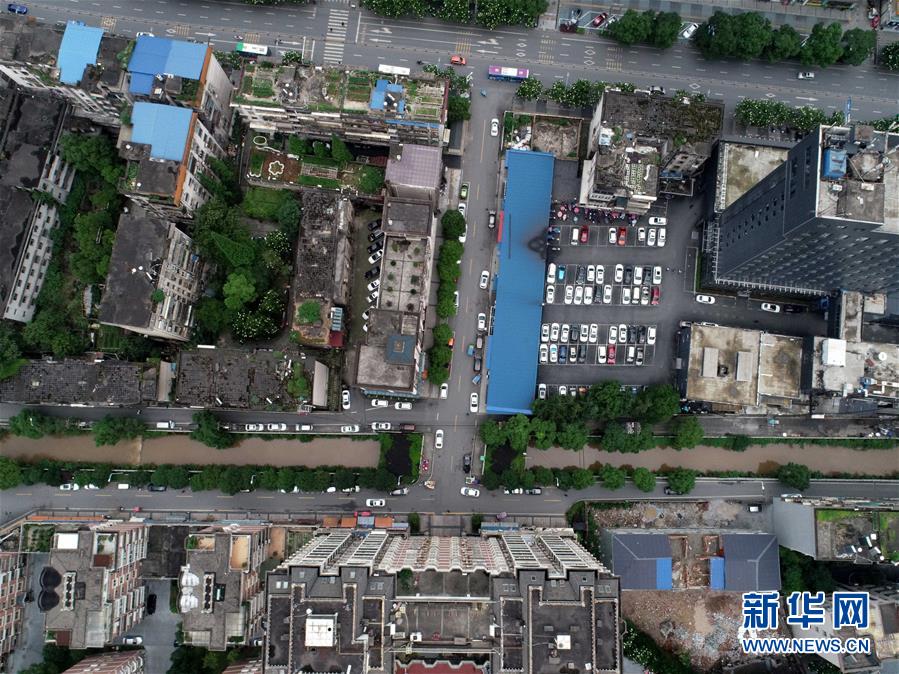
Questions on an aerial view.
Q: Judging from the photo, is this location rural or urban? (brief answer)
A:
urban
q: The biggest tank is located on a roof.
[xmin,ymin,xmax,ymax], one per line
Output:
[819,149,847,183]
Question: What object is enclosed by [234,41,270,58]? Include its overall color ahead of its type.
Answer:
white vehicle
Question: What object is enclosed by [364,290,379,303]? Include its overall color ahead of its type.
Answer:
white vehicle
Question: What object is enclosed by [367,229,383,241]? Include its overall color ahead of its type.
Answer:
gray vehicle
